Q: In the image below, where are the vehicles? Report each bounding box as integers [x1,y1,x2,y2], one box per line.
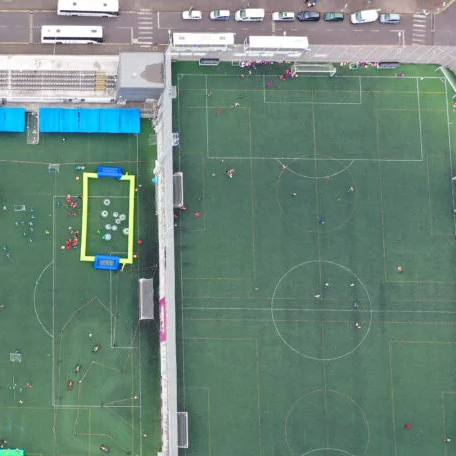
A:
[170,33,236,52]
[242,36,310,55]
[236,8,264,22]
[272,10,294,22]
[381,12,403,24]
[56,0,121,18]
[208,9,230,21]
[182,10,202,21]
[296,9,321,22]
[40,26,105,45]
[348,9,378,24]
